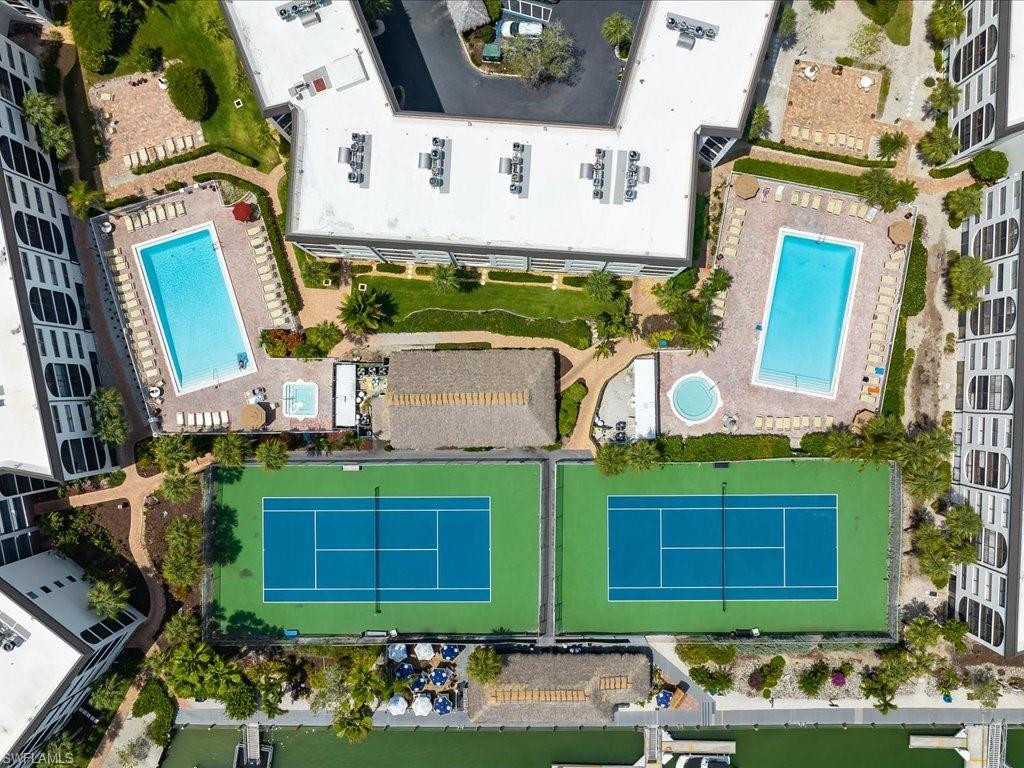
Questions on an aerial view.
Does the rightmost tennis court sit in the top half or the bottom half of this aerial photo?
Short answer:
bottom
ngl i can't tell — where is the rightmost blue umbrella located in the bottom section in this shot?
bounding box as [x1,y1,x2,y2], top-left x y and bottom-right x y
[656,691,672,708]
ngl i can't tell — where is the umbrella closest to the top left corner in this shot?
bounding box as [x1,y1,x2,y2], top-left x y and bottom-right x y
[234,201,253,220]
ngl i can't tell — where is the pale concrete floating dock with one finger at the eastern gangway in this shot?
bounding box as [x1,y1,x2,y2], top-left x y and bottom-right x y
[908,731,989,768]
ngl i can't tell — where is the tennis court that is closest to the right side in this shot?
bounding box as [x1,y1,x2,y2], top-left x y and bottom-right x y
[556,460,890,634]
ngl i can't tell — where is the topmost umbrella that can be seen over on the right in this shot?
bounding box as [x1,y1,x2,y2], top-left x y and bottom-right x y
[733,174,757,198]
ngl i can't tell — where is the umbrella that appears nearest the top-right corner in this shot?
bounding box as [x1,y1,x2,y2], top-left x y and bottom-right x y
[890,220,914,244]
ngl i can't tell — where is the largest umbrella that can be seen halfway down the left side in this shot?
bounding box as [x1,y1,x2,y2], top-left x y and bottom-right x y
[241,405,265,429]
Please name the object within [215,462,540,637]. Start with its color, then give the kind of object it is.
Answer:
green tennis court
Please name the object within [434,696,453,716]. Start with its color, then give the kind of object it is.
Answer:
blue umbrella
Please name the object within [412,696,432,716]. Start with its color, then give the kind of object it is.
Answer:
white umbrella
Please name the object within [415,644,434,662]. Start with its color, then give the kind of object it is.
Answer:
white umbrella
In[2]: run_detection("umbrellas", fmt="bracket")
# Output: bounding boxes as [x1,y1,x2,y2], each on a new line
[387,697,407,717]
[434,696,453,716]
[441,644,460,662]
[234,201,253,220]
[656,691,672,708]
[890,220,914,244]
[415,644,434,662]
[394,662,413,680]
[241,405,265,429]
[408,676,427,695]
[388,643,407,662]
[429,668,448,687]
[412,696,432,716]
[733,174,757,198]
[850,408,875,432]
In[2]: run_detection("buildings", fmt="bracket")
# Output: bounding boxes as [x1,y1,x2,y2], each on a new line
[0,535,146,768]
[940,0,1024,171]
[465,650,654,726]
[336,365,357,426]
[385,344,560,452]
[0,36,117,481]
[222,0,776,284]
[948,171,1024,656]
[445,0,492,32]
[634,359,655,438]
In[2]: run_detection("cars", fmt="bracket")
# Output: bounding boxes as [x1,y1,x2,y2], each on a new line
[546,0,563,6]
[499,18,544,43]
